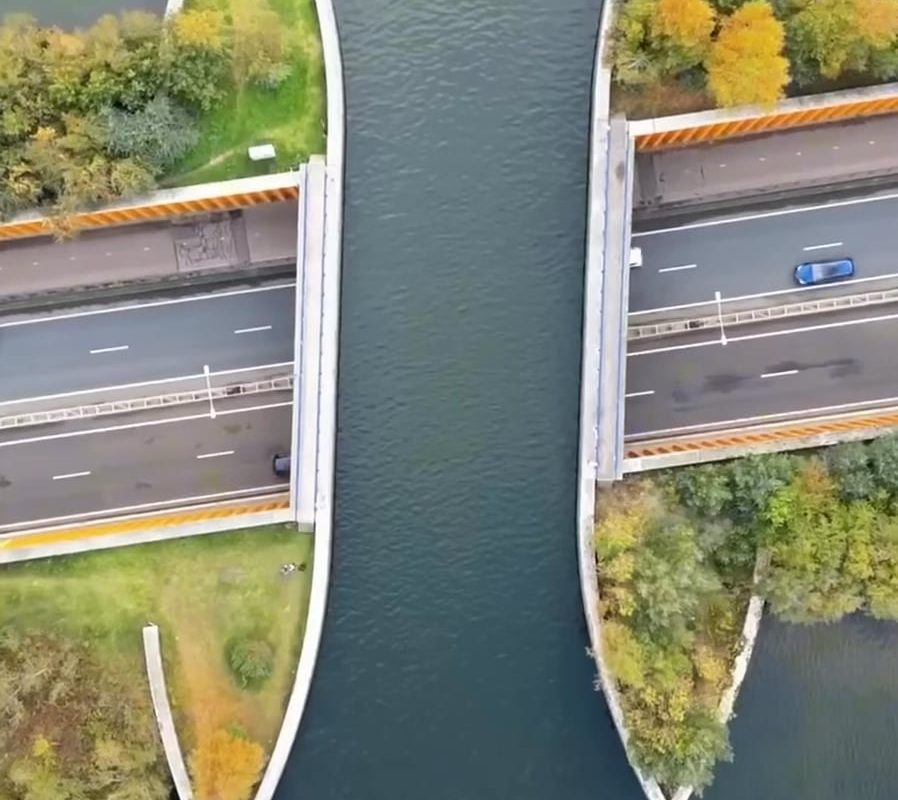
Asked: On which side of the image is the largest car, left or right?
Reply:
right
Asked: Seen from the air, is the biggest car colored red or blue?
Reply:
blue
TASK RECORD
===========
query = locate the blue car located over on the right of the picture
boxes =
[794,257,855,286]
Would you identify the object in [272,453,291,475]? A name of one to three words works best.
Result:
car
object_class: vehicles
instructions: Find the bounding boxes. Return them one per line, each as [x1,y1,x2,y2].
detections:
[272,453,291,475]
[794,257,855,286]
[630,248,640,272]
